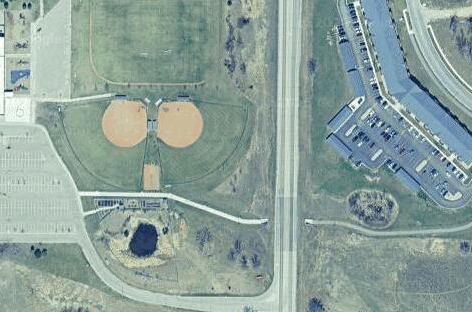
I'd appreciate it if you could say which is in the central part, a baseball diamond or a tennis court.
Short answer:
baseball diamond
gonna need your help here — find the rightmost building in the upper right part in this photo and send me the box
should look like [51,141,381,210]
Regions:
[359,0,472,170]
